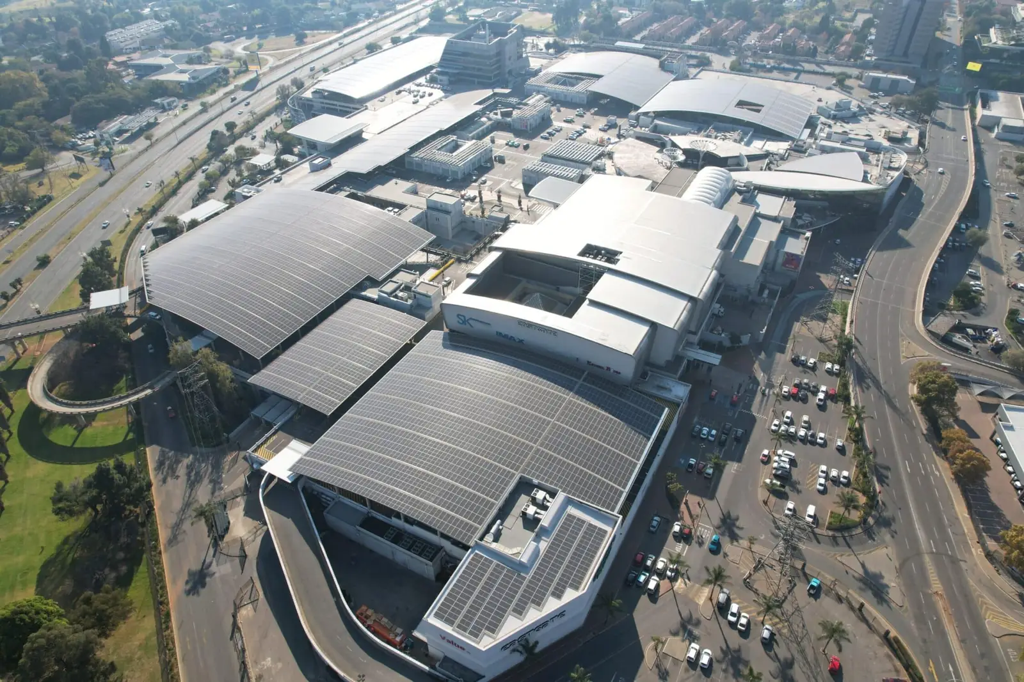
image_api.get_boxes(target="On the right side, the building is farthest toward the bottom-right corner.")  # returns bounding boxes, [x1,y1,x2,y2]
[978,404,1024,519]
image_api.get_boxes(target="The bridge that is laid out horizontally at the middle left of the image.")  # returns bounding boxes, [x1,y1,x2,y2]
[0,296,171,361]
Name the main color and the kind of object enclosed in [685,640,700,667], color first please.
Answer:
white car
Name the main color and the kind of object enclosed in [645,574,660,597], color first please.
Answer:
white car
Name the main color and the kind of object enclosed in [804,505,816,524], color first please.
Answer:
white vehicle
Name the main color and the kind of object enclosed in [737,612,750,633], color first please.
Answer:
white vehicle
